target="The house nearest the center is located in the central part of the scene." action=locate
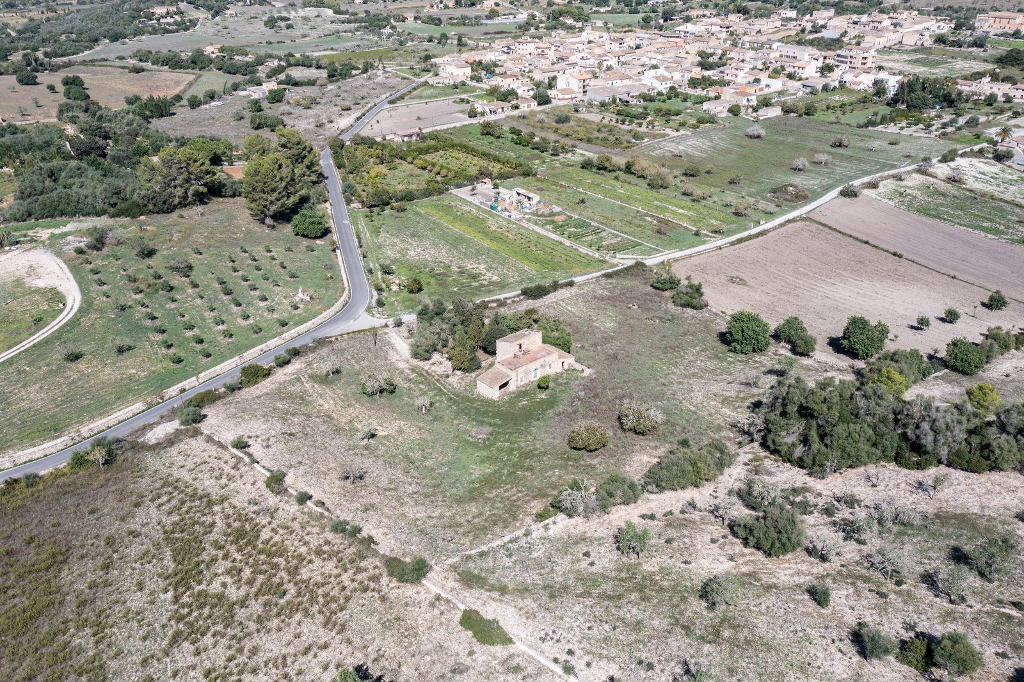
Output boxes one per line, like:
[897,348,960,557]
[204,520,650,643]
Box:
[478,325,575,399]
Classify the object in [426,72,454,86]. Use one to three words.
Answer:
house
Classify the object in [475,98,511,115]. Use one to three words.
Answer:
house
